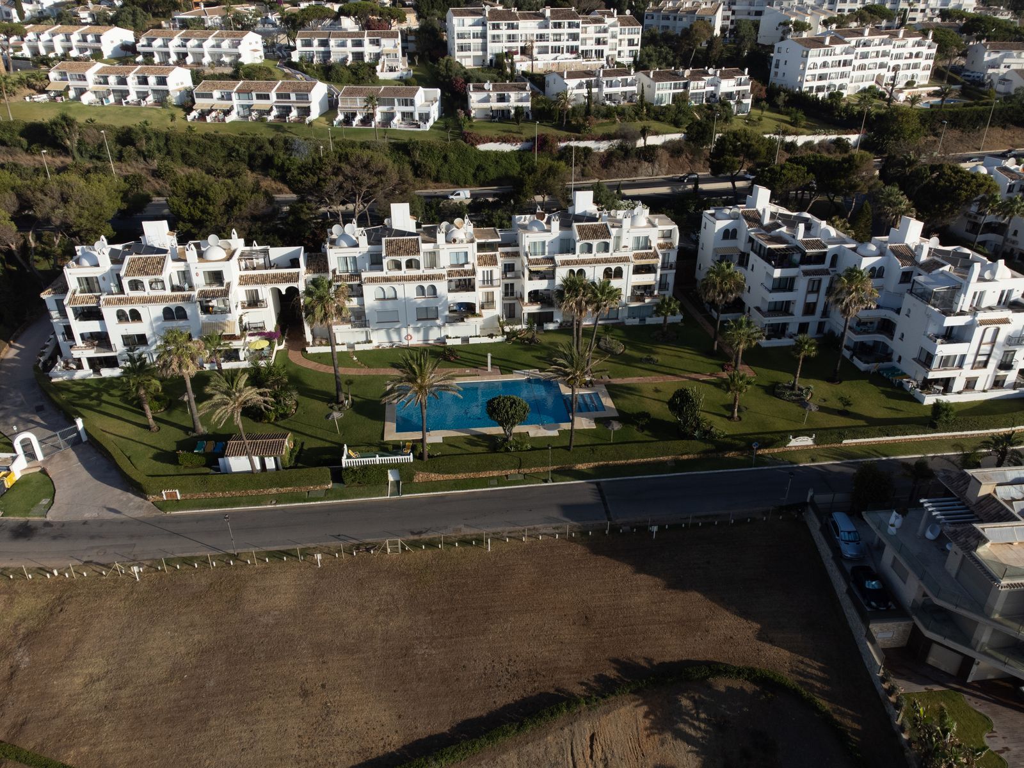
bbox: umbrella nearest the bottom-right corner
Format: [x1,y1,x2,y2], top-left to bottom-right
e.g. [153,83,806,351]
[796,402,820,424]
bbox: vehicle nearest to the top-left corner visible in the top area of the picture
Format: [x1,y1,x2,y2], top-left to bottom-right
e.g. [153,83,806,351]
[447,186,470,198]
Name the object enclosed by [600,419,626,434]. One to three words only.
umbrella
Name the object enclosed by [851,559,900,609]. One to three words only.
car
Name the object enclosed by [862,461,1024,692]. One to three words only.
house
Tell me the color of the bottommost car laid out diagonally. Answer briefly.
black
